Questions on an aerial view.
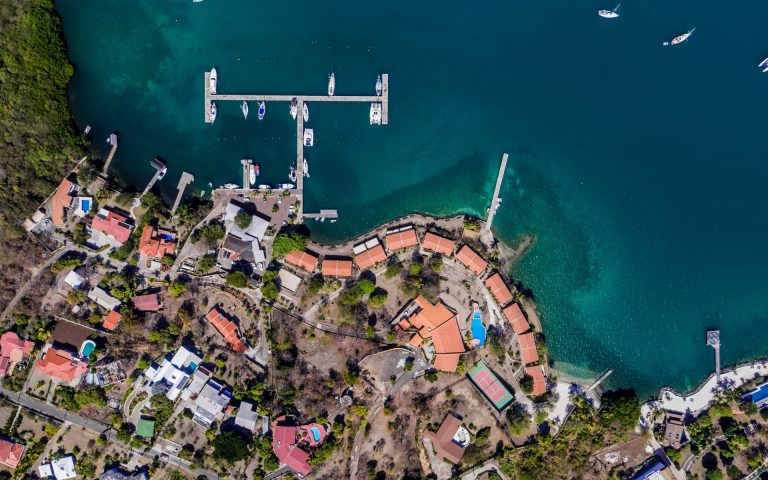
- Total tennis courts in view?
one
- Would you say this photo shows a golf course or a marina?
marina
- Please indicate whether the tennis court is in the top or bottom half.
bottom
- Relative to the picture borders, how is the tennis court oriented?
at an angle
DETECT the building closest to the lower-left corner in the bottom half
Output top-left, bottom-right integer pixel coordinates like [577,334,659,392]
[0,435,28,468]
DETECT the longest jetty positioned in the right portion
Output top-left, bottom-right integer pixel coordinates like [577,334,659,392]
[486,153,508,230]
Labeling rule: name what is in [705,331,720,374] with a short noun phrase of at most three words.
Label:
pier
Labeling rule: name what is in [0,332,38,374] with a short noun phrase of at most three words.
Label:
house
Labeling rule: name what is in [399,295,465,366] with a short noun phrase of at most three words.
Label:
building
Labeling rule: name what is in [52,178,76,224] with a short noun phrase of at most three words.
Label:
house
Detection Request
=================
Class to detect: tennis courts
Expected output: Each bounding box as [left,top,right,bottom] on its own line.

[466,359,517,412]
